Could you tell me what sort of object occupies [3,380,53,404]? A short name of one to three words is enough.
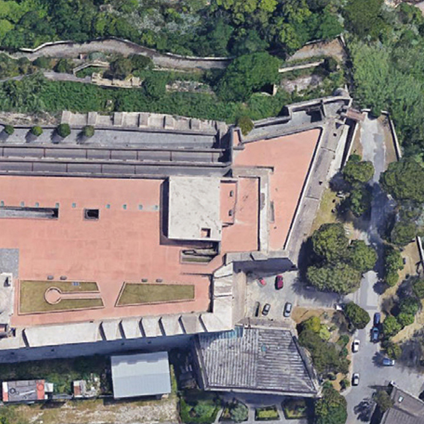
shed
